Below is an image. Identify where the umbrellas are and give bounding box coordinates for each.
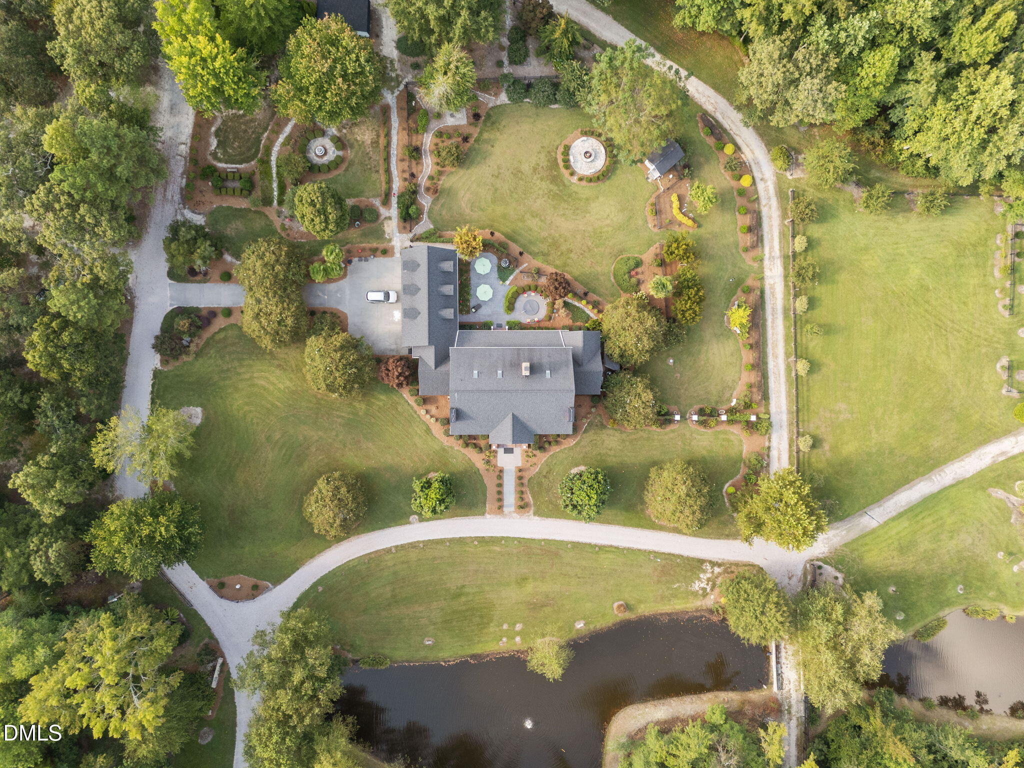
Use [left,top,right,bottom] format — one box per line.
[475,258,491,275]
[477,284,493,301]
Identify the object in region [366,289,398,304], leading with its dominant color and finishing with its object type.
white car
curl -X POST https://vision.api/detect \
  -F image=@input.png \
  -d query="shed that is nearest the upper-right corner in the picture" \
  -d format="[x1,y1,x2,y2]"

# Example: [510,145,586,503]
[635,139,684,188]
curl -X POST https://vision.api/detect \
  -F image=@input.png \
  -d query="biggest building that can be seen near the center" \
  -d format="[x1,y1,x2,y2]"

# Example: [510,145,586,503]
[400,245,602,447]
